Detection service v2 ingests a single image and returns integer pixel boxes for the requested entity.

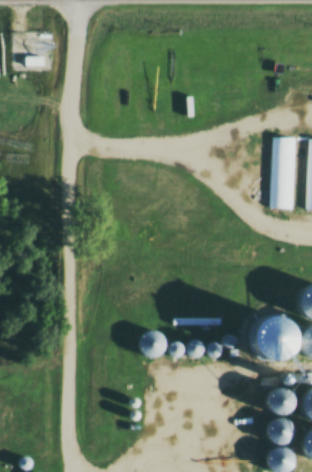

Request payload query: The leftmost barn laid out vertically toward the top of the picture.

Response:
[270,137,296,211]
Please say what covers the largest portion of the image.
grass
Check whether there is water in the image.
No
